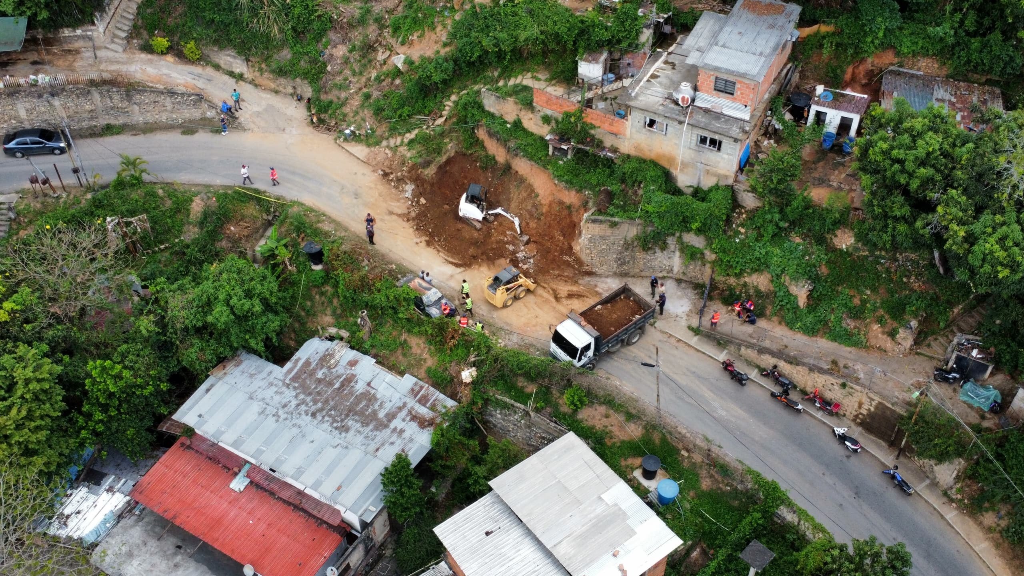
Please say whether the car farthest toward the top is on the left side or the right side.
left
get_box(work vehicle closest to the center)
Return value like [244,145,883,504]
[483,260,541,307]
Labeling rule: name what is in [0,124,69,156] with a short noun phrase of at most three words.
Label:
car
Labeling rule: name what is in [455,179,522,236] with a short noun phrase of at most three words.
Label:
work vehicle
